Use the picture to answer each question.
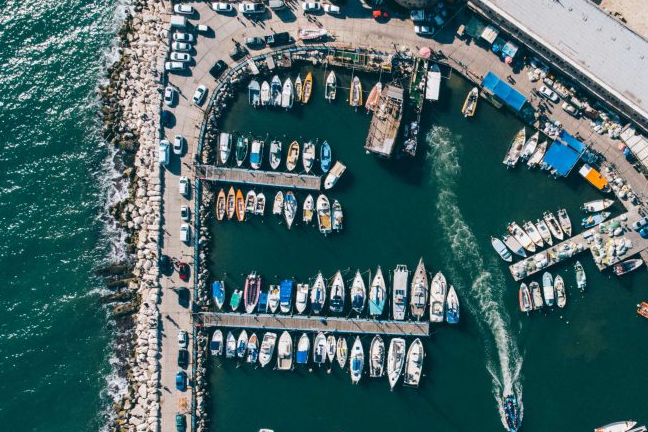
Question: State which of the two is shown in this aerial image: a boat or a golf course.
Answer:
boat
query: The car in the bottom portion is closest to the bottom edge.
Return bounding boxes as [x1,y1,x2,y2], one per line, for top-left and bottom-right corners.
[174,410,186,431]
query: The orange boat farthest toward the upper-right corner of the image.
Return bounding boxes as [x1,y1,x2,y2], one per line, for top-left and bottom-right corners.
[580,165,611,192]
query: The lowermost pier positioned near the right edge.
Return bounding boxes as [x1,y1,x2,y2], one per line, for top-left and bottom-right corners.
[509,210,639,280]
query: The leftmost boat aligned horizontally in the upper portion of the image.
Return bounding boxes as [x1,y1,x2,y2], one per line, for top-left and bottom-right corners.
[296,26,326,40]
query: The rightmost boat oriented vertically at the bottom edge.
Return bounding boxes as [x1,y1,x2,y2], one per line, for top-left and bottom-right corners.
[502,391,521,432]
